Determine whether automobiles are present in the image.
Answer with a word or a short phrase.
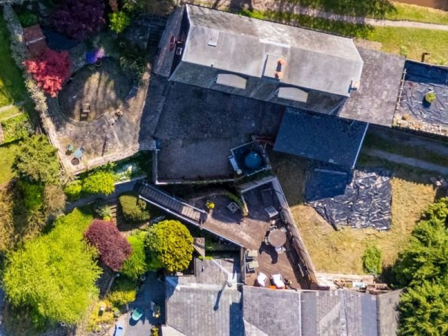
No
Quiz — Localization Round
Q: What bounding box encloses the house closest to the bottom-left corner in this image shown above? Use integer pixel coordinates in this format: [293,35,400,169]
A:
[162,254,241,336]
